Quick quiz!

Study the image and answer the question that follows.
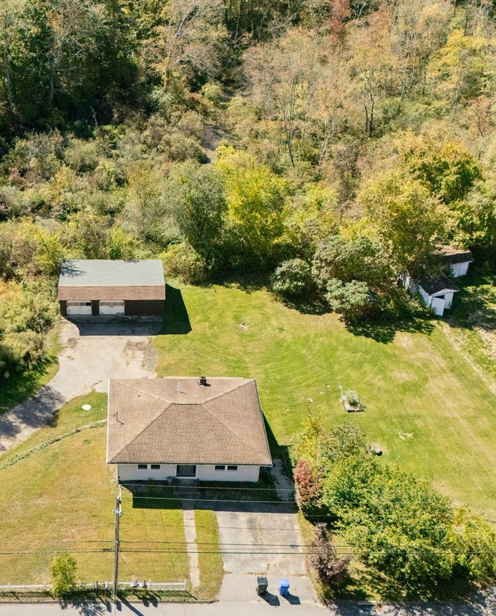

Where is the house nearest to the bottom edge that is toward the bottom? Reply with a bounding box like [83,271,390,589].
[104,375,273,497]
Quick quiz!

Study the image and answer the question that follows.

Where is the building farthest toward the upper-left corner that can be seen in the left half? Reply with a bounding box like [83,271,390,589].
[58,260,166,317]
